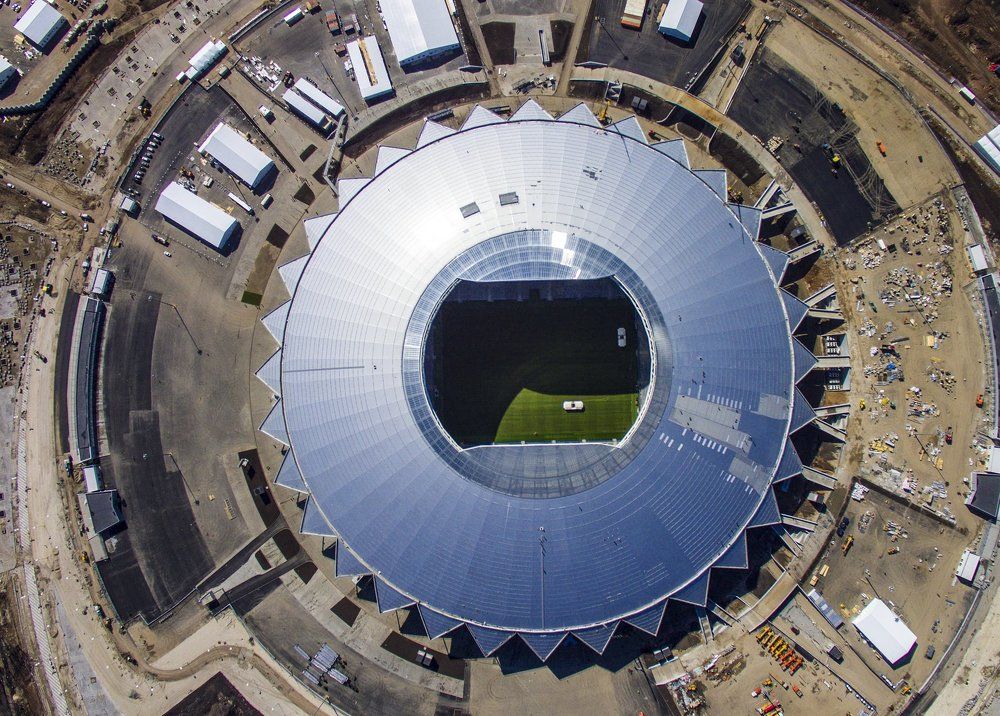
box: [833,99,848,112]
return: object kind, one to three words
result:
vehicle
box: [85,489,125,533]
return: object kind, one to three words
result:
building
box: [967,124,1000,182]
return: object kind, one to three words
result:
shed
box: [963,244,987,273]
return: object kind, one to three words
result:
building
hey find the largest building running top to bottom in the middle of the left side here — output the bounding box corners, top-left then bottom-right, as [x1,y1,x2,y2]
[75,300,104,460]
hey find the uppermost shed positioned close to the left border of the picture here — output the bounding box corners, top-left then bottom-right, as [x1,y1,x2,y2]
[15,0,67,49]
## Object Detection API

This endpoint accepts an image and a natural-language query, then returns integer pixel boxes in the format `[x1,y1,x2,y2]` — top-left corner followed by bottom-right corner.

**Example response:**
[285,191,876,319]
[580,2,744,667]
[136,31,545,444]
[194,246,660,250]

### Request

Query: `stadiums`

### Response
[255,98,819,661]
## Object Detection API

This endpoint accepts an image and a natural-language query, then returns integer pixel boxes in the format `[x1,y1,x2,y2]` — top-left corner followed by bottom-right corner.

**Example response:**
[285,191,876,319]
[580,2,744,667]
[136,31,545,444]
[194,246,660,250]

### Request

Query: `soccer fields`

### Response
[428,294,643,446]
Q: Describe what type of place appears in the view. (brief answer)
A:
sports ground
